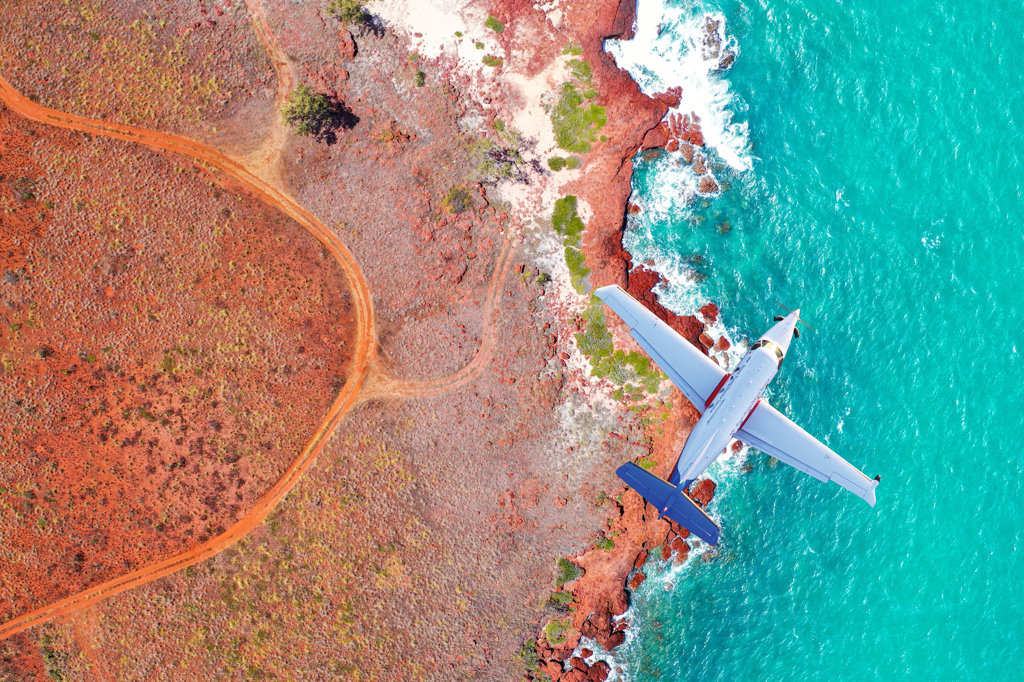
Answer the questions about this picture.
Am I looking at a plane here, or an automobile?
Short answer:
plane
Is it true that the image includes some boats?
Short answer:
No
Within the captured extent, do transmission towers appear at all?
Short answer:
No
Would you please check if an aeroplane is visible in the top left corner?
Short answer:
No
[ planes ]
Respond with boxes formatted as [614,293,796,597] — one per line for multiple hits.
[594,289,887,547]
